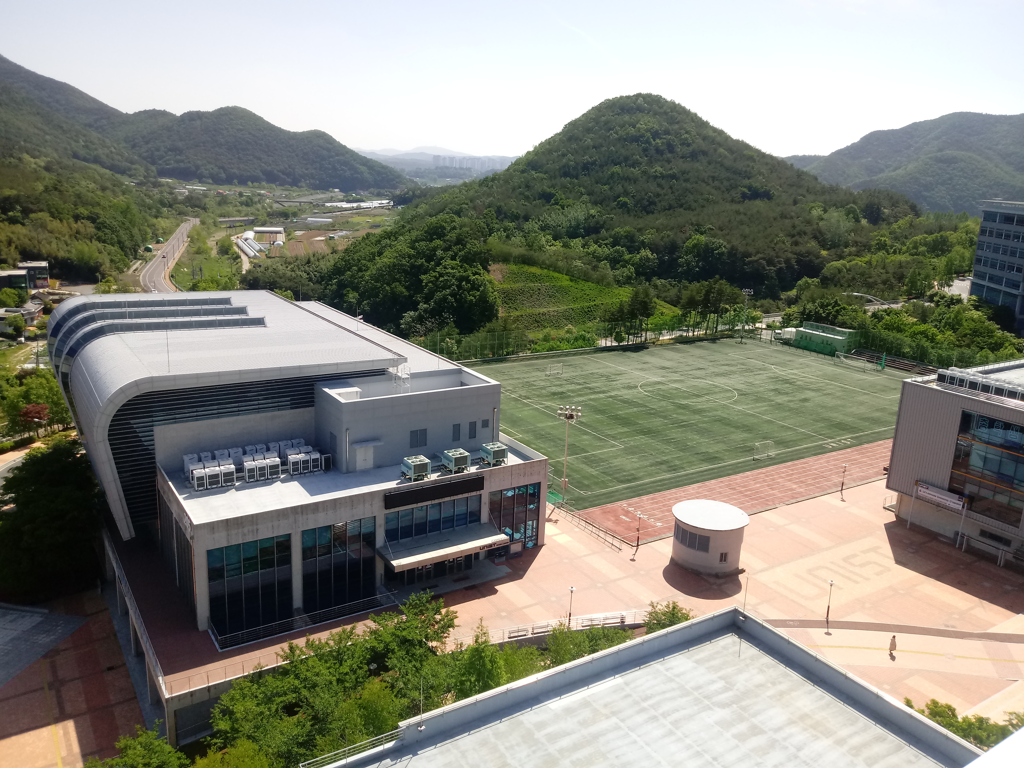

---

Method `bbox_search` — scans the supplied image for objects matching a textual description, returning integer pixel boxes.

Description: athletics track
[569,436,892,546]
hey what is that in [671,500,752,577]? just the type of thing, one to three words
building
